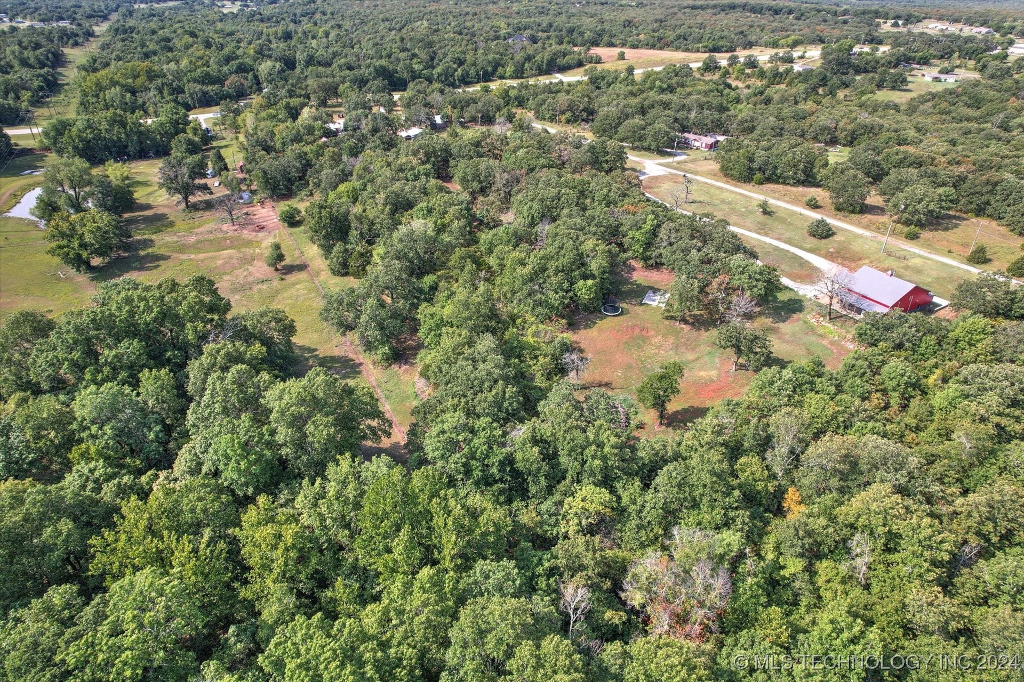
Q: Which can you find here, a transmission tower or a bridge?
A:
transmission tower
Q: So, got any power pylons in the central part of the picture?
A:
No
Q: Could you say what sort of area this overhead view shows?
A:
forest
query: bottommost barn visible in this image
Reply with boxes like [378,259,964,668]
[823,267,931,318]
